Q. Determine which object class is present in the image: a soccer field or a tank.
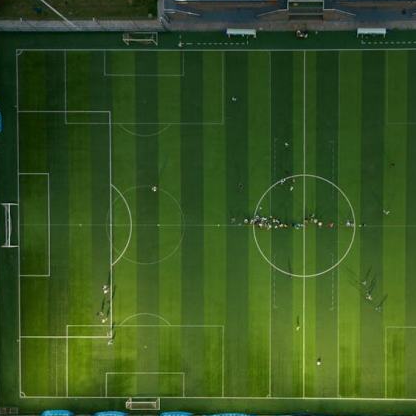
soccer field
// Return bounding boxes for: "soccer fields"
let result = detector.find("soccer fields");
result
[327,49,416,399]
[0,29,416,416]
[20,49,281,398]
